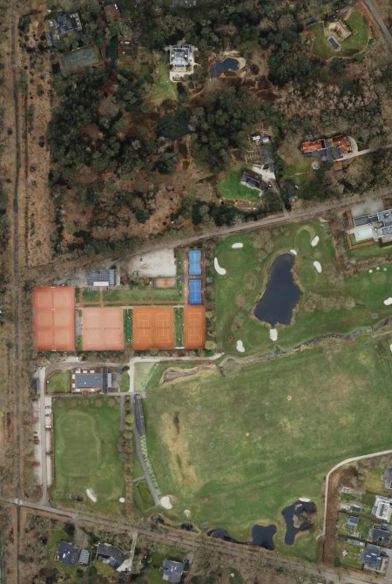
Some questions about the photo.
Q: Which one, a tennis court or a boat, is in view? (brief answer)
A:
tennis court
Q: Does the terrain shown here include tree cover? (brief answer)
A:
Yes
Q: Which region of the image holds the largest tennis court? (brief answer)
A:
left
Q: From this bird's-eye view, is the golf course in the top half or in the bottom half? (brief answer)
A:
bottom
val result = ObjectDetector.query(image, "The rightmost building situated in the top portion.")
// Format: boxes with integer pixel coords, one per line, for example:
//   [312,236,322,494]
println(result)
[354,207,392,235]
